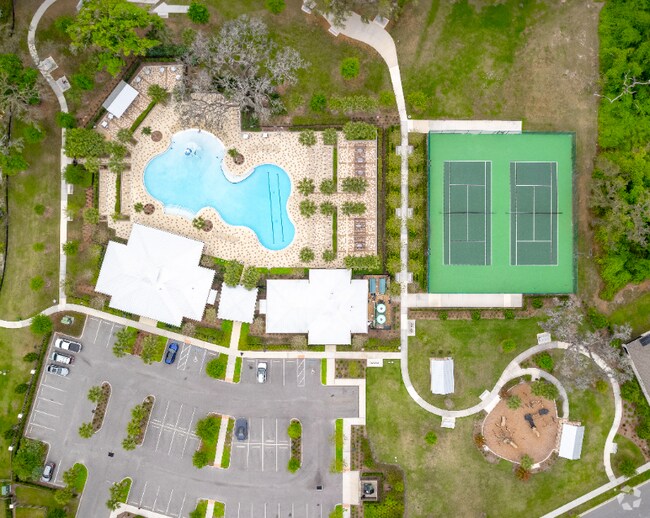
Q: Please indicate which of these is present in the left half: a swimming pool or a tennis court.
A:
swimming pool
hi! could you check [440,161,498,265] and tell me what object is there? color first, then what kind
green tennis court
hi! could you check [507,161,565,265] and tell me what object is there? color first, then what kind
green tennis court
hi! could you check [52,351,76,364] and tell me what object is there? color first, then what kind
white vehicle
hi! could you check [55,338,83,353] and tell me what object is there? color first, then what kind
white vehicle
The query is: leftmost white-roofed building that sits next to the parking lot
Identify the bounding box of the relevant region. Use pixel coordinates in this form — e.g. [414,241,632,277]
[95,223,215,327]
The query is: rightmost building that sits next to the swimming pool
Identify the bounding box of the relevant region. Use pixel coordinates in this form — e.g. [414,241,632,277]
[267,269,368,345]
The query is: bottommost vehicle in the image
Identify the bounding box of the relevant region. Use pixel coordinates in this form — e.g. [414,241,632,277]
[43,460,57,481]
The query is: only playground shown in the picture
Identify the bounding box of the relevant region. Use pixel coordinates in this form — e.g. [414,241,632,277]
[482,382,559,465]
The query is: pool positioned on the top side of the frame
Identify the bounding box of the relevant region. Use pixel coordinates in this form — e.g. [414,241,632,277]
[142,127,296,252]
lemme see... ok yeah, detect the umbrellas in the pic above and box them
[376,315,386,324]
[376,303,386,313]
